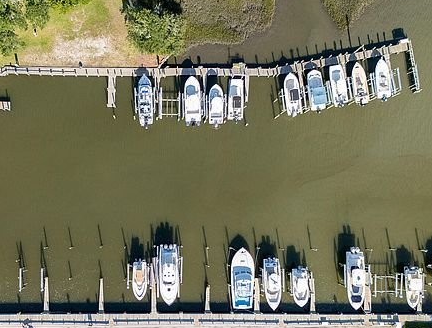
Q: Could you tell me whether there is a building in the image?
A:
No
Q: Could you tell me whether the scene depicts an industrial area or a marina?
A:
marina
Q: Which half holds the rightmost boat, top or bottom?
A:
bottom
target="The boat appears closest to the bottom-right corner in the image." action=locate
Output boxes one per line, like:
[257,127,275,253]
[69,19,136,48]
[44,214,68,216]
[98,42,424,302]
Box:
[403,264,425,309]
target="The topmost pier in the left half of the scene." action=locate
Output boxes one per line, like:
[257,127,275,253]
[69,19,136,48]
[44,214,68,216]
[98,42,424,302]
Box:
[0,64,269,80]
